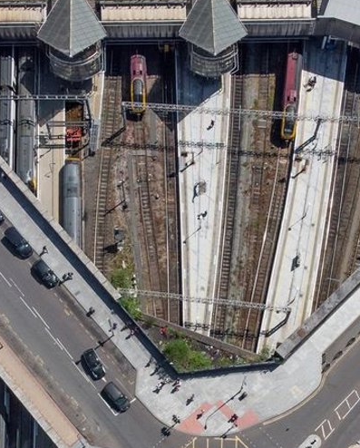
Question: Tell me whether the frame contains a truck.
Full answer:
No, no truck is visible in the scene.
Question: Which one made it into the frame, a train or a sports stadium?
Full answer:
This aerial view contains a train.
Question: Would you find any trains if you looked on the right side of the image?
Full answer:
Yes, a train shows up on the right side of the image.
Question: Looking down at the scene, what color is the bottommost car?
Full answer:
The bottommost car looks black in the image.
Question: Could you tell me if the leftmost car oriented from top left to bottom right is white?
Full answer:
No, the leftmost car oriented from top left to bottom right is actually black.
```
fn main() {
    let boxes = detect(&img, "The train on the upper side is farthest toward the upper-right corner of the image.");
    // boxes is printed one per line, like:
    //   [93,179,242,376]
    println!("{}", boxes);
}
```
[278,34,303,144]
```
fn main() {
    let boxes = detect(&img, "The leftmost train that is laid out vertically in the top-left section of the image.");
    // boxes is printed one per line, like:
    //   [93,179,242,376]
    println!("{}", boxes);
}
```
[0,40,17,172]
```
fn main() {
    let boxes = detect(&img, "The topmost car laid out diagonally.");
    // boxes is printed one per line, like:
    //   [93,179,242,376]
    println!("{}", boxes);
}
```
[3,227,32,257]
